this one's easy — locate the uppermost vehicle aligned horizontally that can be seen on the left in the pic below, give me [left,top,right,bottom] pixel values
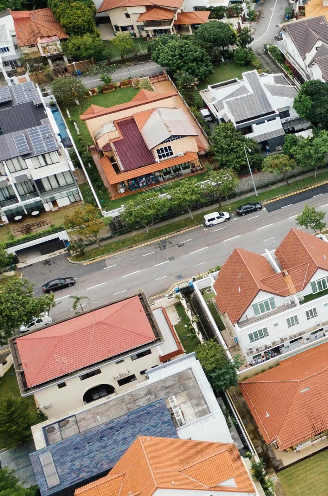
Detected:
[42,274,77,289]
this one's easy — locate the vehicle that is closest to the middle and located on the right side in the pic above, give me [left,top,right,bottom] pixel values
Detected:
[200,205,234,225]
